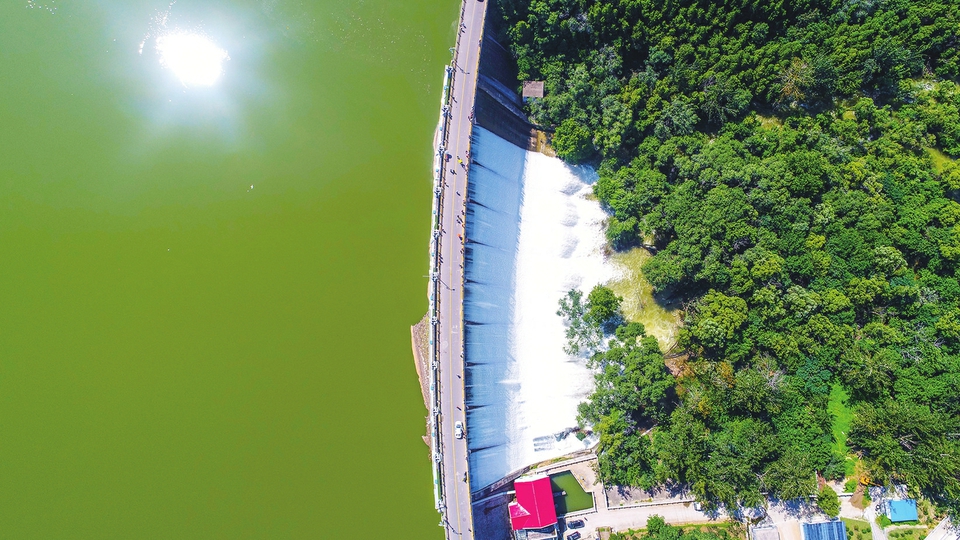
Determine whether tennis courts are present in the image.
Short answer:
No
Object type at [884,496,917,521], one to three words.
shed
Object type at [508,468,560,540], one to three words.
building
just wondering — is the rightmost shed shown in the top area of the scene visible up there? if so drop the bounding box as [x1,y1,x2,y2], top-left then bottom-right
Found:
[522,81,544,101]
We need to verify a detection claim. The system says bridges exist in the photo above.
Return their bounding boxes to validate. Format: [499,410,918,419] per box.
[438,0,488,540]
